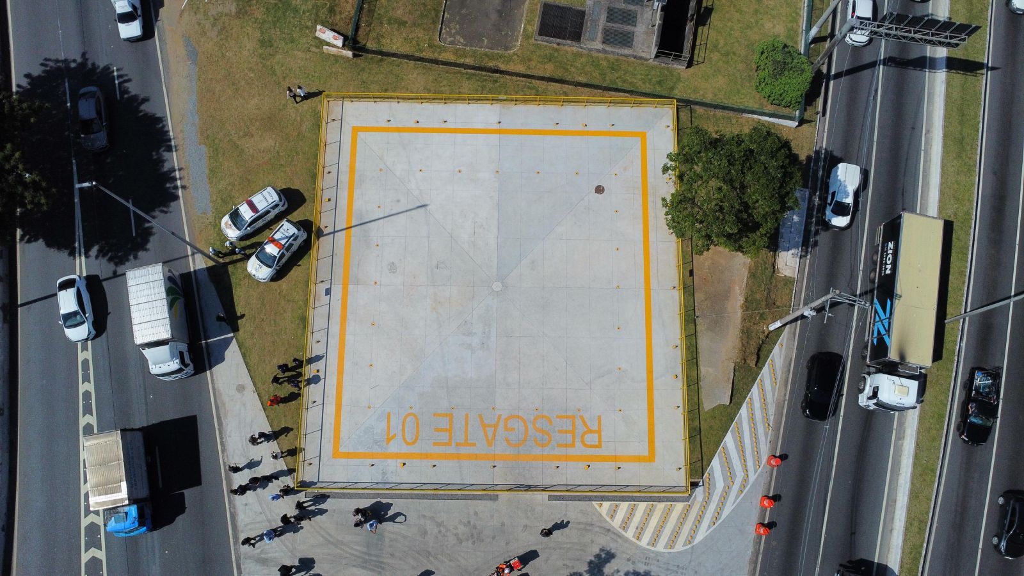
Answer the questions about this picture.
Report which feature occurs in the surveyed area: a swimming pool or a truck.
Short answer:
truck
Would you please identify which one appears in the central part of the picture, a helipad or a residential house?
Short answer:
helipad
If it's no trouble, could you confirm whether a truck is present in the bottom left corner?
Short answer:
Yes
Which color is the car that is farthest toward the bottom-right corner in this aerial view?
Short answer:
black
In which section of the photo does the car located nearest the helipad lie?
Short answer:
left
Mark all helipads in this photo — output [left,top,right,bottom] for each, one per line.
[296,96,704,497]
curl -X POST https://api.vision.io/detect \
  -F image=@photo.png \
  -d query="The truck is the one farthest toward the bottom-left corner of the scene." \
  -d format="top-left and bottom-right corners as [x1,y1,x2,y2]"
[82,427,159,537]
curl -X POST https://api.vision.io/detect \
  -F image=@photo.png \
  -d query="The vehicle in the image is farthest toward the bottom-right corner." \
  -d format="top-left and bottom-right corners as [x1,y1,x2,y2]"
[987,489,1024,561]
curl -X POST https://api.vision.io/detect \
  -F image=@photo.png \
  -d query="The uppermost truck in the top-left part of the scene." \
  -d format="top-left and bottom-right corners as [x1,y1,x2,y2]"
[109,0,148,44]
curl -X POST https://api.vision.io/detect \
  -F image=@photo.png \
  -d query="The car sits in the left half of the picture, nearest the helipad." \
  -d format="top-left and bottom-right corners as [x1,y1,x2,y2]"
[248,217,308,283]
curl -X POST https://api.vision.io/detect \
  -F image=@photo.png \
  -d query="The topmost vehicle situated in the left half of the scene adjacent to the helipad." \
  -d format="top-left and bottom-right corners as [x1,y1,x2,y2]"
[222,183,287,243]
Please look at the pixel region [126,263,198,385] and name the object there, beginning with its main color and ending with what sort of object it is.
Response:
white truck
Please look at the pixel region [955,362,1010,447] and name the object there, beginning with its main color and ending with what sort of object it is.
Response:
black truck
